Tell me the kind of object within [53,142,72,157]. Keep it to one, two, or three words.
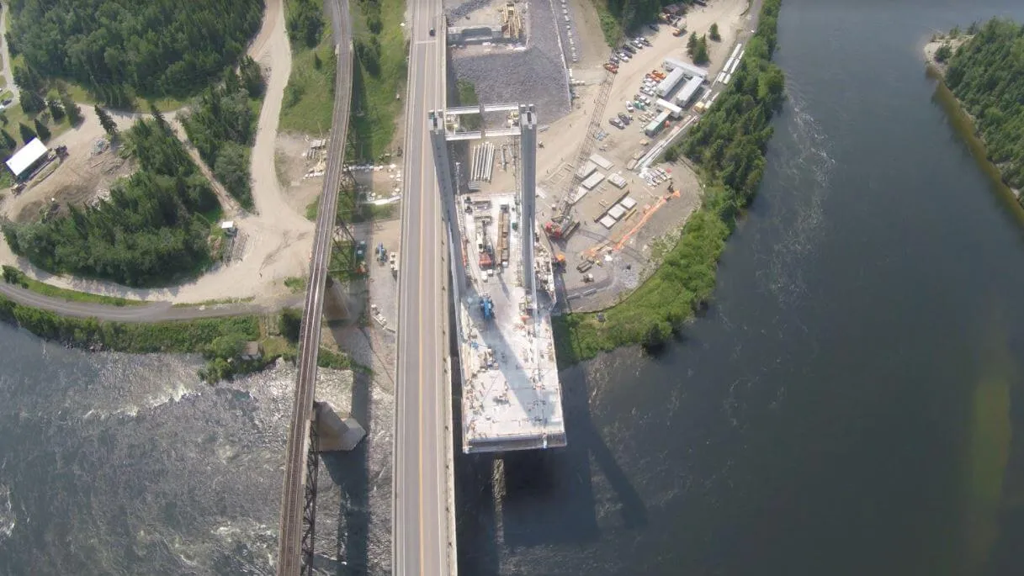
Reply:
work vehicle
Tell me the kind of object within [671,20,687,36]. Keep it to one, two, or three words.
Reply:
vehicle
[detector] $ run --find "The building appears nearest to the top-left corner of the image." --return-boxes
[4,142,57,184]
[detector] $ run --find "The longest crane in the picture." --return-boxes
[548,64,616,237]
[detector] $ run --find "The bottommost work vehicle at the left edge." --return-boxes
[4,178,25,197]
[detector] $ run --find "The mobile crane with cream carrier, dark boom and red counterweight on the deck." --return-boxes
[466,204,497,255]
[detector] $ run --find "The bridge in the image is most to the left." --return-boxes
[276,44,368,576]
